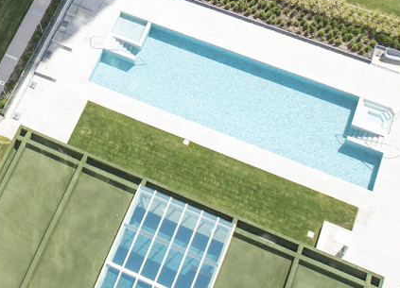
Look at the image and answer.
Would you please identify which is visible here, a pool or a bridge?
pool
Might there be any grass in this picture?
Yes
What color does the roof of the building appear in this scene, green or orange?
green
